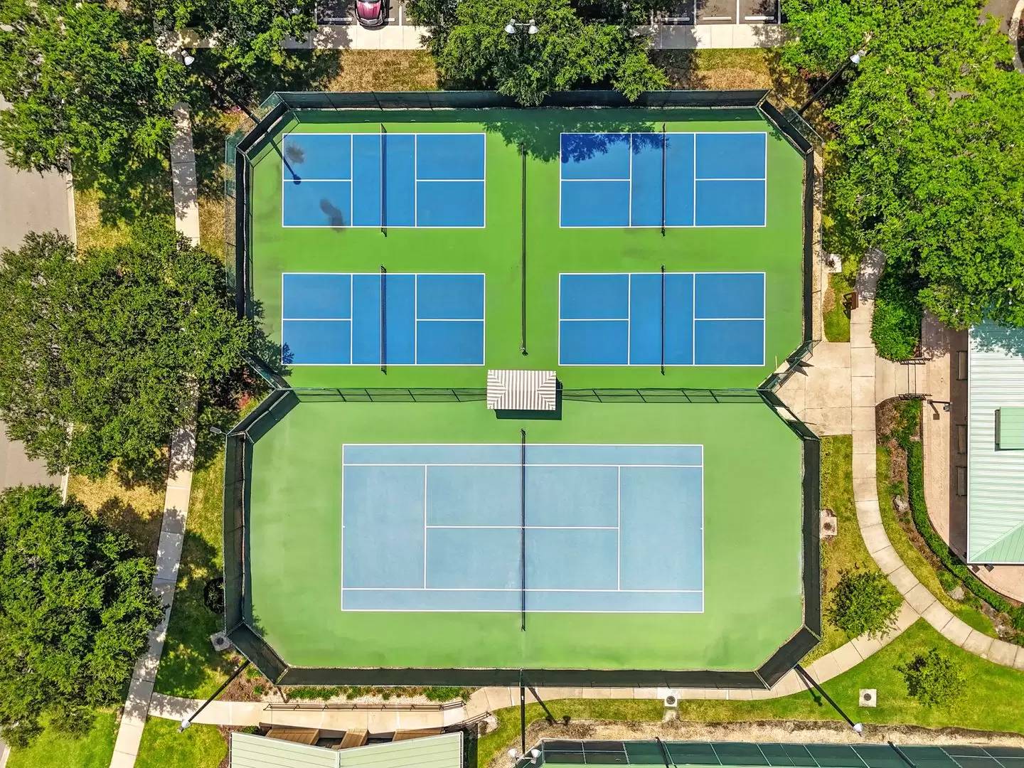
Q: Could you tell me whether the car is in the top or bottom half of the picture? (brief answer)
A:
top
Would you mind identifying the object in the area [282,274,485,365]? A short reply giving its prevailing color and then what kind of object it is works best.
blue sports court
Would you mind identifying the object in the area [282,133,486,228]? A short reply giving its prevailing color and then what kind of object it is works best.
blue sports court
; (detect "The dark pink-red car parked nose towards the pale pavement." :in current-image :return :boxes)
[354,0,385,28]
